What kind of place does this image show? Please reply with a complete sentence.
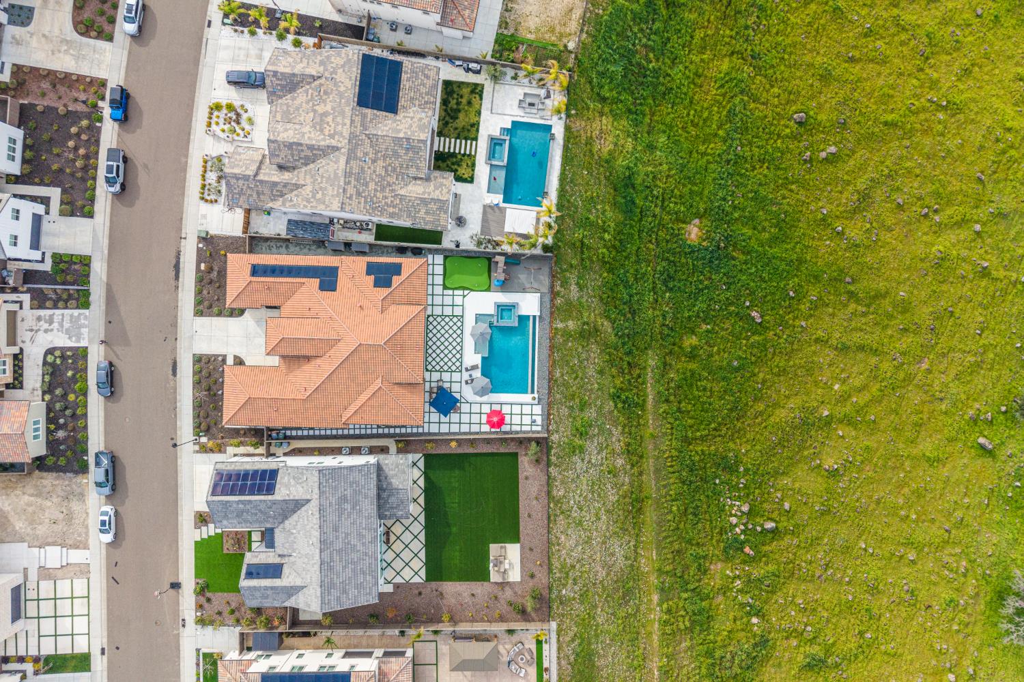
It's a residential area.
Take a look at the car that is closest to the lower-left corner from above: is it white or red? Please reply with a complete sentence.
The car that is closest to the lower-left corner looks white in the image.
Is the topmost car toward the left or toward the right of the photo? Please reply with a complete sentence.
It is on the left.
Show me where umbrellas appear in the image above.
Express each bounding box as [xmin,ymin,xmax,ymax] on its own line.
[471,376,492,397]
[486,409,506,428]
[470,323,493,345]
[429,386,461,418]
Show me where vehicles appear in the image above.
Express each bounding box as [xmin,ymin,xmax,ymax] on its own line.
[105,83,129,122]
[100,145,126,194]
[119,0,144,33]
[226,67,266,88]
[94,506,116,546]
[92,360,113,398]
[90,450,114,497]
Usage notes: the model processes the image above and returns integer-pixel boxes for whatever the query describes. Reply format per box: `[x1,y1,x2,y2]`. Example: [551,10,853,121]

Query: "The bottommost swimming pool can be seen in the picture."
[474,302,536,394]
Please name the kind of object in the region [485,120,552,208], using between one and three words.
swimming pool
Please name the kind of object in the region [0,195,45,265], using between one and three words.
house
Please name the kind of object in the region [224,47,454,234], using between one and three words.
house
